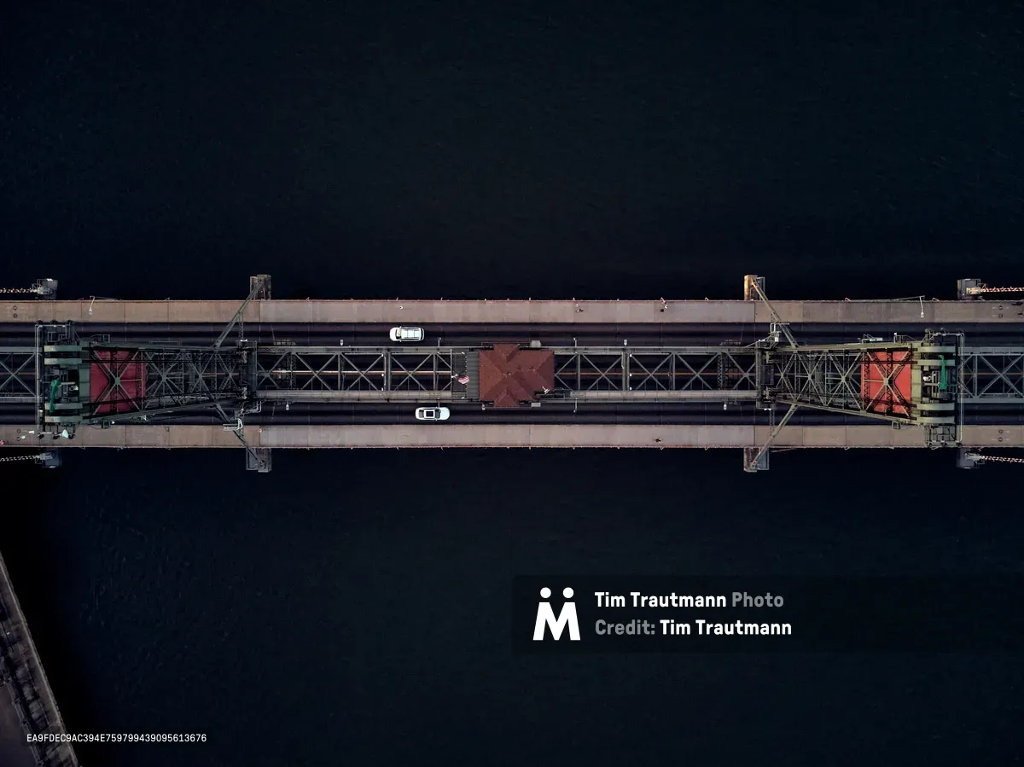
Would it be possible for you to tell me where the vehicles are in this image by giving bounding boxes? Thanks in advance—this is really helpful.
[416,407,449,421]
[389,326,424,342]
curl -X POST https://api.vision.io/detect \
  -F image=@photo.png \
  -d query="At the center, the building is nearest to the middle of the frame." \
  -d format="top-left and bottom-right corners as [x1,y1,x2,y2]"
[451,341,564,408]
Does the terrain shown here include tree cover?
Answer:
No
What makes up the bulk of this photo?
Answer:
water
